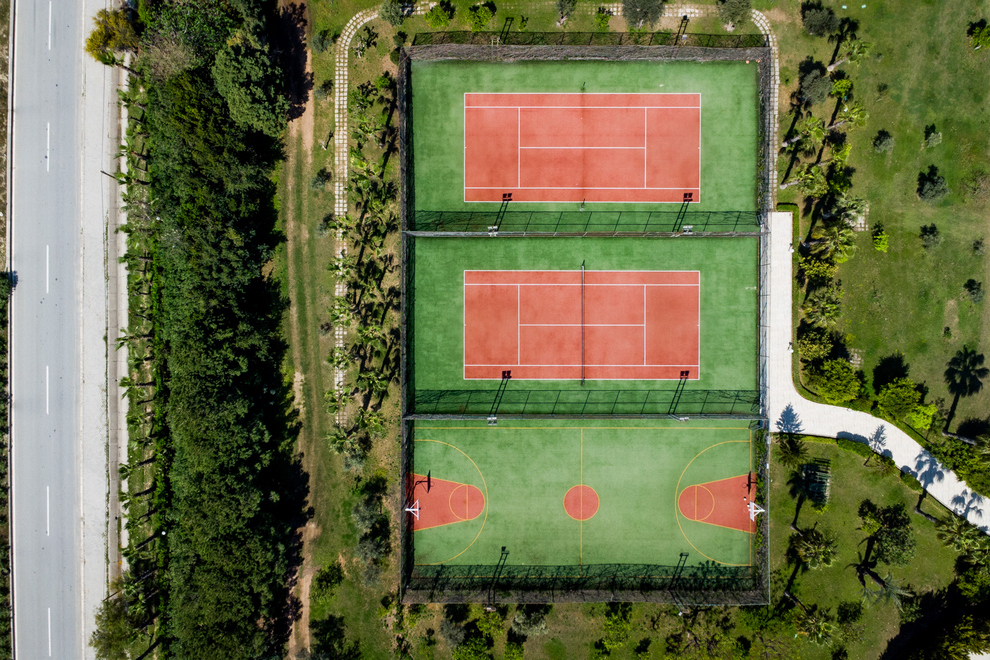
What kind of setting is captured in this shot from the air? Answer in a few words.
sports ground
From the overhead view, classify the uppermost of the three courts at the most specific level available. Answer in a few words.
tennis court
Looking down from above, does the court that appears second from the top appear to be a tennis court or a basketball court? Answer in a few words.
tennis court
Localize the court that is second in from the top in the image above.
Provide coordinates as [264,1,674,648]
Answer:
[405,236,758,414]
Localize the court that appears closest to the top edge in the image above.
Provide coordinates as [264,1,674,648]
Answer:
[405,60,758,236]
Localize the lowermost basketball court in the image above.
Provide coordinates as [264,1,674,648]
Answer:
[405,414,758,590]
